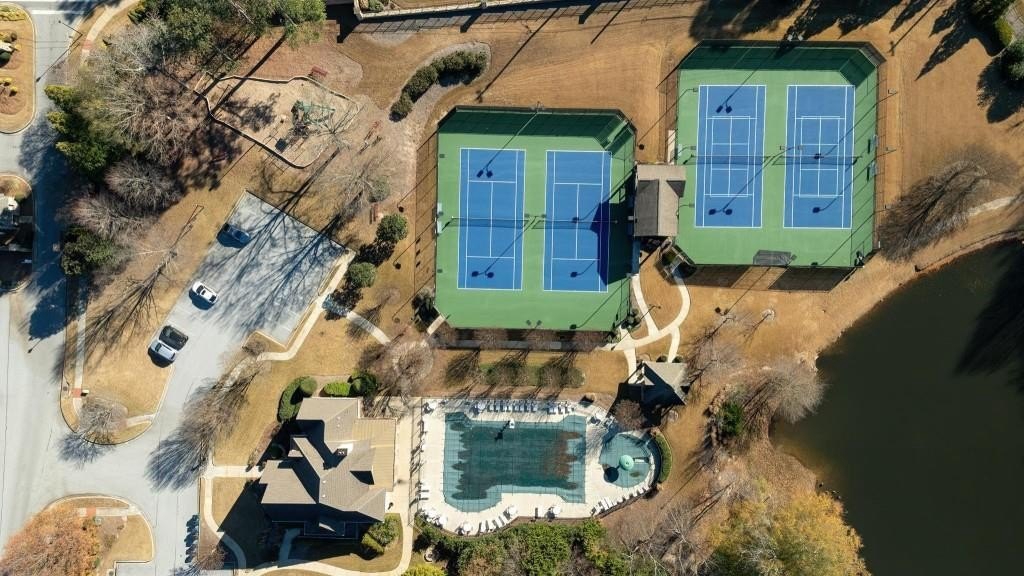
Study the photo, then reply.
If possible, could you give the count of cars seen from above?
4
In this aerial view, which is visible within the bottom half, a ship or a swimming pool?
swimming pool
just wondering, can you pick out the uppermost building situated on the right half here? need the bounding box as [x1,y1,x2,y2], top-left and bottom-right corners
[632,165,686,237]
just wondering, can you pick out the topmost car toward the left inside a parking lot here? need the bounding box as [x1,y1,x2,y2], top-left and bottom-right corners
[218,225,247,247]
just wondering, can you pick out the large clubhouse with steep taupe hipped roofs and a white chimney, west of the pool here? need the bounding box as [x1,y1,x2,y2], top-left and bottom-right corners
[260,398,396,536]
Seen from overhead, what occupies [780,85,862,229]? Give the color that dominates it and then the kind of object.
blue tennis court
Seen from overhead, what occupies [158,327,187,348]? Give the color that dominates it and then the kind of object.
black car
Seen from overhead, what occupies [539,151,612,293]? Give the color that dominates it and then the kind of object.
blue tennis court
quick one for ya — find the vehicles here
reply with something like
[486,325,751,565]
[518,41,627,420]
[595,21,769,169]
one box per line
[188,284,217,305]
[147,343,176,364]
[158,327,187,348]
[218,225,247,247]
